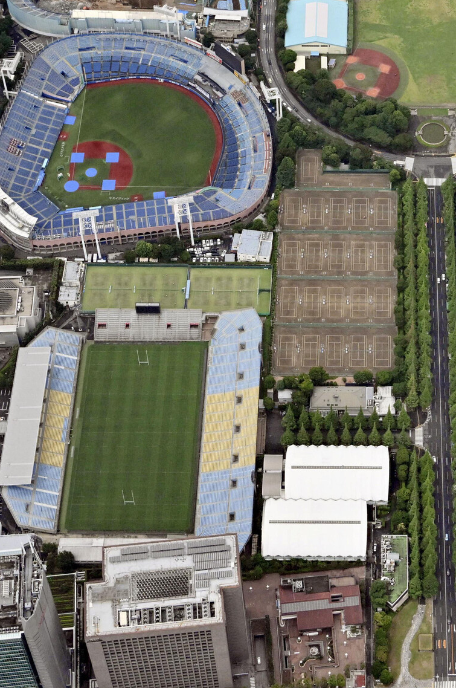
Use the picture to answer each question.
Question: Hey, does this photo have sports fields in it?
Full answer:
Yes, the photo shows a sports field.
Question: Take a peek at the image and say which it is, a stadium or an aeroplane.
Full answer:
Of the two, only a stadium appears.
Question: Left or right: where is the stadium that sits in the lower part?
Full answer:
The stadium that sits in the lower part is on the left side of the image.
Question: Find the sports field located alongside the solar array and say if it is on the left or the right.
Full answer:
The sports field located alongside the solar array sits on the left side.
